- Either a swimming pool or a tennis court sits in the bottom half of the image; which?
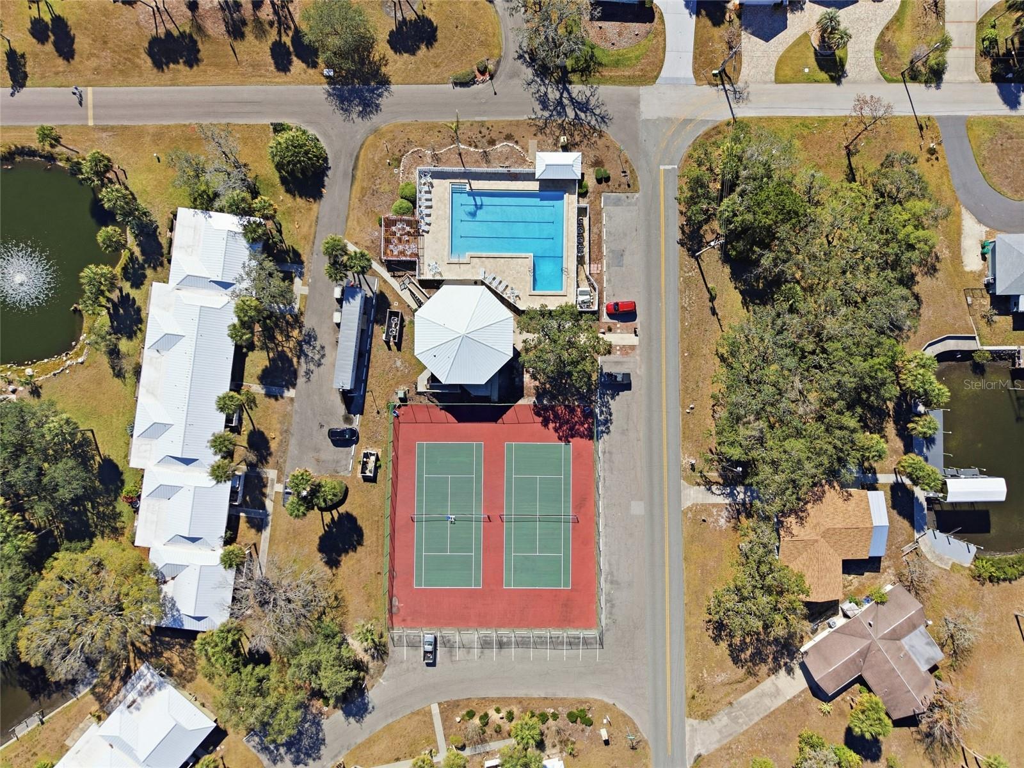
tennis court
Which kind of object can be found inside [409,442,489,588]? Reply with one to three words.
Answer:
tennis court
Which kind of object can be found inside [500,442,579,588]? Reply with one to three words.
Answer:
tennis court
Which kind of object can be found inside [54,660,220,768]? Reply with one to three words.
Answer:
house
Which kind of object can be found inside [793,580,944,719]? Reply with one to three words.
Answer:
house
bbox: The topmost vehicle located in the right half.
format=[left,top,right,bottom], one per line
[607,301,637,314]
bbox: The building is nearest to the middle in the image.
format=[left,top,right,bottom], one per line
[415,285,513,401]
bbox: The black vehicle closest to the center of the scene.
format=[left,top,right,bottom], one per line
[601,371,632,385]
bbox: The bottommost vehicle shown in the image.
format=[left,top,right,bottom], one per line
[422,635,435,665]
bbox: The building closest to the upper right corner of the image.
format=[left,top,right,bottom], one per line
[990,233,1024,312]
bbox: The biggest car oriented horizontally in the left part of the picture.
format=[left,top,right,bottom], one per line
[326,429,358,443]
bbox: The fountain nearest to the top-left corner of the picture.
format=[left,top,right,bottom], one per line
[0,239,61,319]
